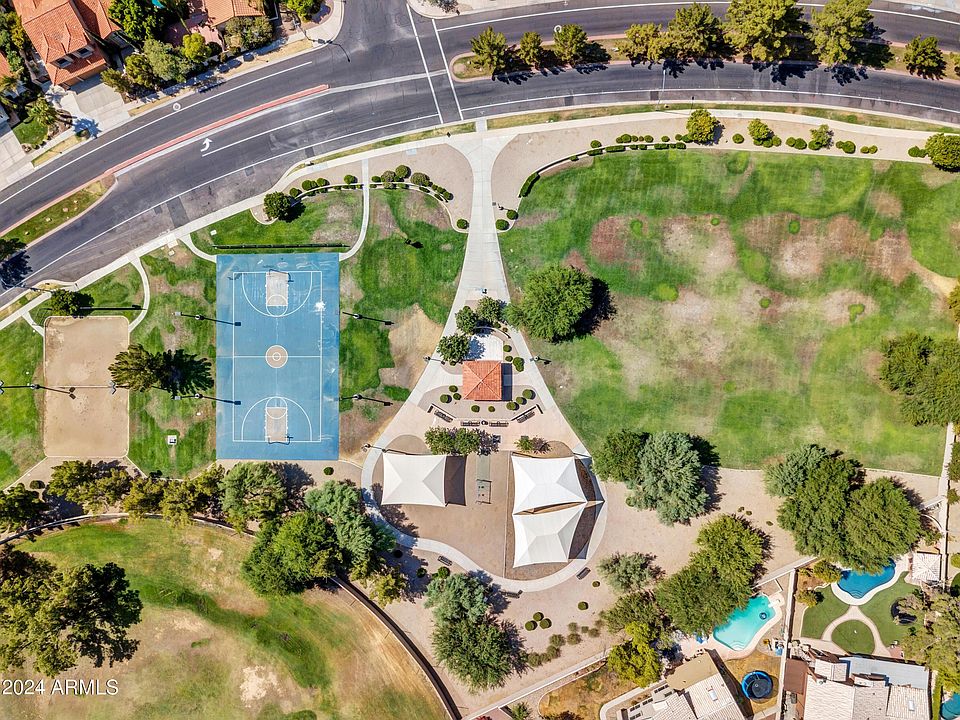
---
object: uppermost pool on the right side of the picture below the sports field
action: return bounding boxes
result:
[832,551,901,605]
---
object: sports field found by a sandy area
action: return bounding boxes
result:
[498,142,960,479]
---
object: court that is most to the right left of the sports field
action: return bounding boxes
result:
[216,253,339,460]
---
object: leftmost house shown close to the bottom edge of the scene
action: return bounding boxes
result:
[623,646,748,720]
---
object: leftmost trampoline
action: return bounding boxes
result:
[744,672,778,708]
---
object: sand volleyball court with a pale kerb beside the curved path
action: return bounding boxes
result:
[43,314,129,458]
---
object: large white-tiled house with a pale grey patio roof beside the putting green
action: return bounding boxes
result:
[782,648,929,720]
